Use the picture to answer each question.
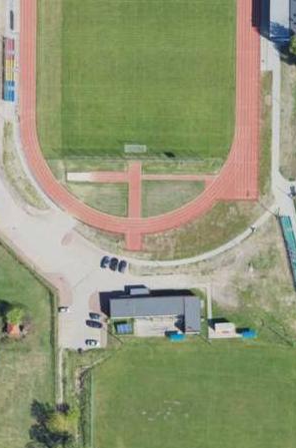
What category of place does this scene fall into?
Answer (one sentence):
The picture captures a sports ground.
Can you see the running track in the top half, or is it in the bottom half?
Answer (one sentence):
Seen from above, the running track lies in the top half of the view.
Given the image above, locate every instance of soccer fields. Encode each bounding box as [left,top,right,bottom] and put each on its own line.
[62,0,234,157]
[94,338,296,448]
